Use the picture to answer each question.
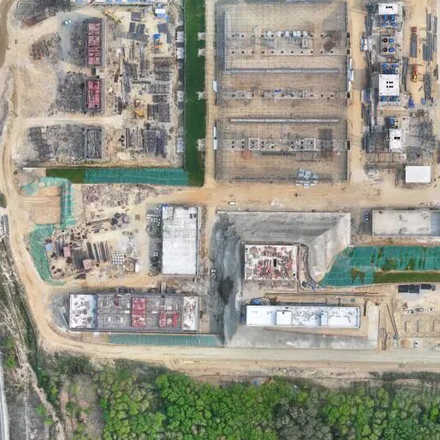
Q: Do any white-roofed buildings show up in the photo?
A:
Yes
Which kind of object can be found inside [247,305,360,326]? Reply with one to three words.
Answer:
building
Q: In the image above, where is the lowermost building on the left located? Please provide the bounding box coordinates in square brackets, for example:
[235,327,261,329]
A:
[70,294,199,329]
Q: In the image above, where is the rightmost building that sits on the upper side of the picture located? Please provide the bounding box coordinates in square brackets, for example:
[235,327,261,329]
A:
[406,166,431,182]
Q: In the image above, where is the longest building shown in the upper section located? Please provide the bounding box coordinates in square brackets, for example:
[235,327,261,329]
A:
[370,1,404,114]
